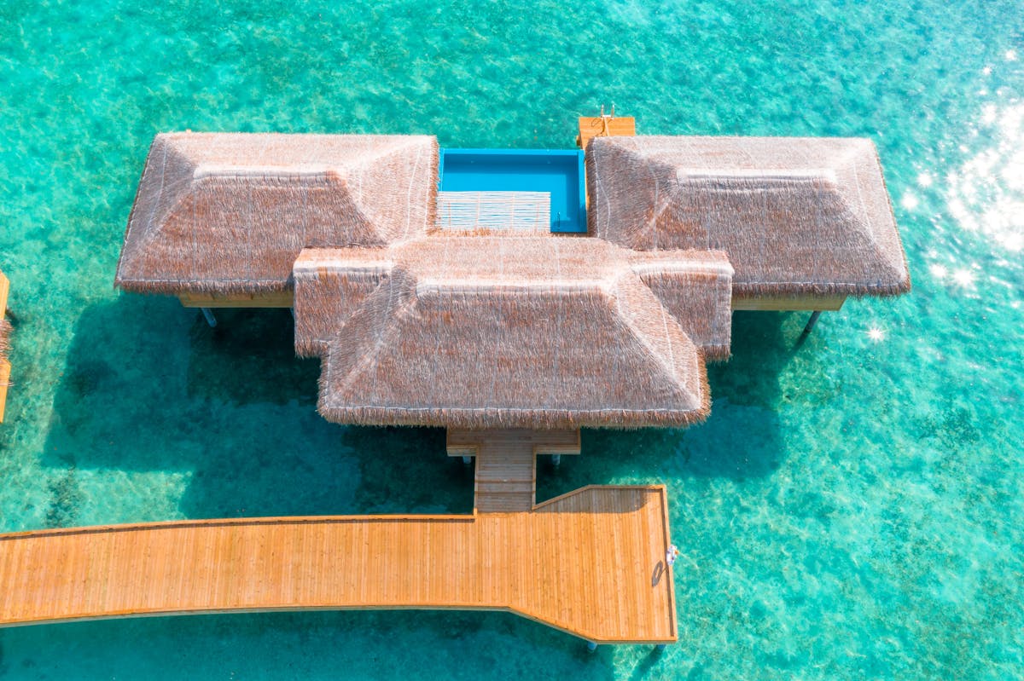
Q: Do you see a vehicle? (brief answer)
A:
No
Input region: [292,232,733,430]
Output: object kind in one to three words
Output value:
building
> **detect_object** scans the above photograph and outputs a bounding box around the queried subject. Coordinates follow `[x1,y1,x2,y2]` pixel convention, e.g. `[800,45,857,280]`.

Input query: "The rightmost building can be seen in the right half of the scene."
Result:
[582,135,911,341]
